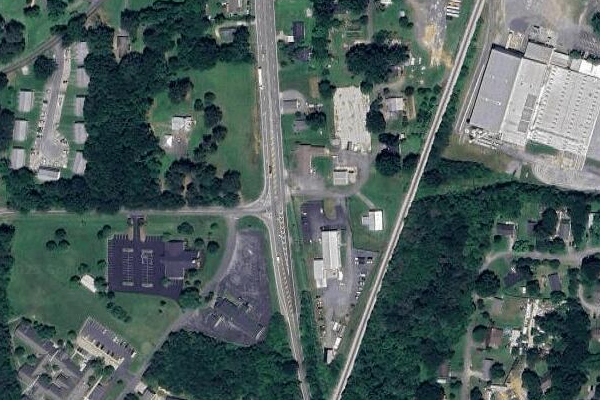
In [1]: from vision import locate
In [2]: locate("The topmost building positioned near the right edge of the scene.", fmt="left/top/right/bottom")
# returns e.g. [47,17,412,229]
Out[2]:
[470,38,600,168]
